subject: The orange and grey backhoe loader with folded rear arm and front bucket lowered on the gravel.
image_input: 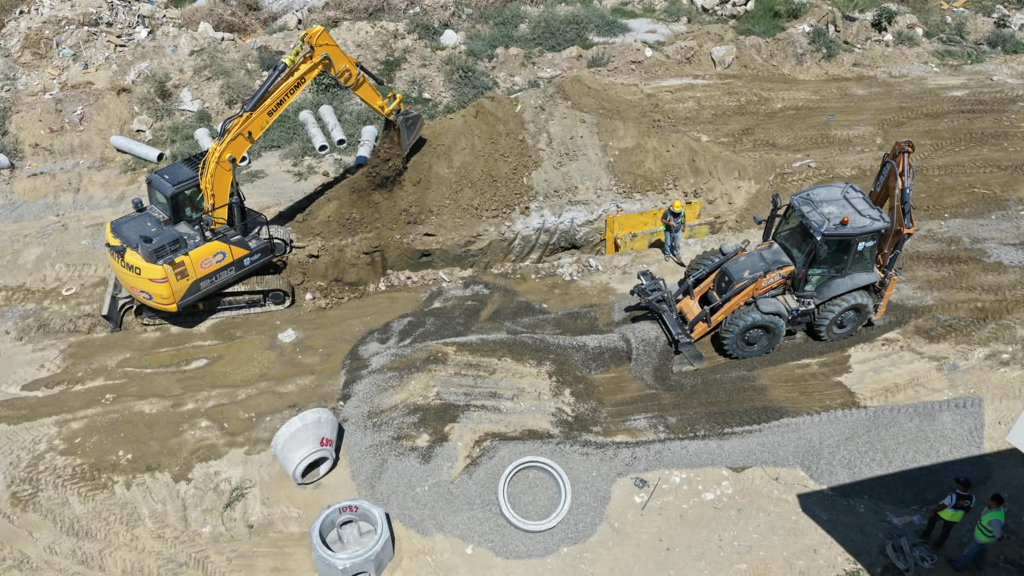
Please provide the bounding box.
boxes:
[628,140,935,372]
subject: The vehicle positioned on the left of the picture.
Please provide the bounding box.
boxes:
[102,27,426,332]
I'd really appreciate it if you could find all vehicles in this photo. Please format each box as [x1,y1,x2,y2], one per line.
[628,140,935,372]
[102,27,426,332]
